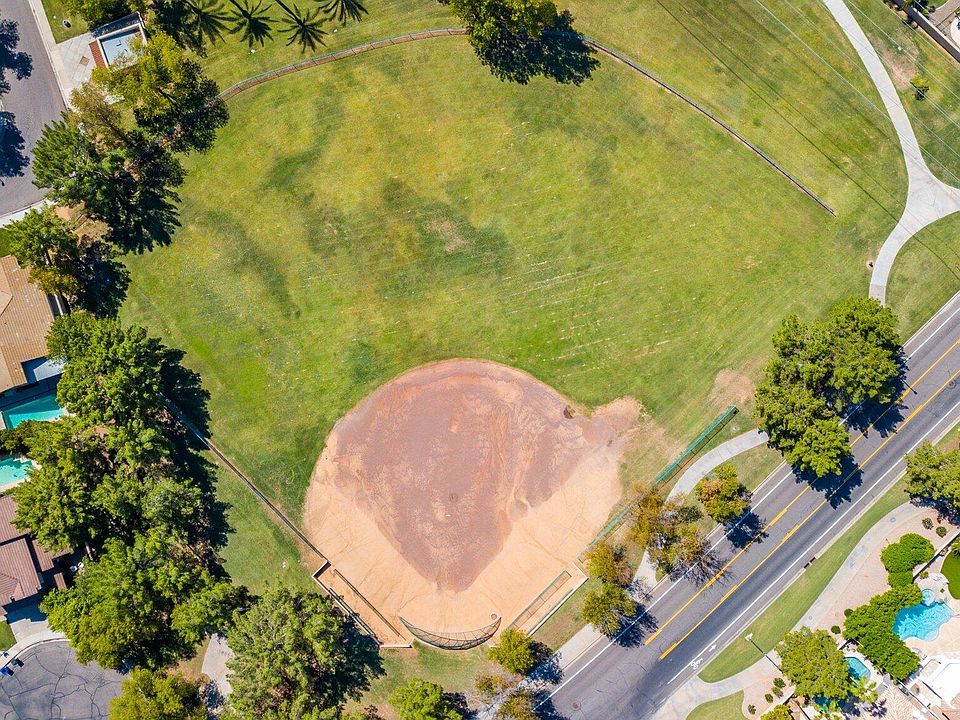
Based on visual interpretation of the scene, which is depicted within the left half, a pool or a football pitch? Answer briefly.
pool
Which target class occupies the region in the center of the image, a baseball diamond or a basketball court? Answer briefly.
baseball diamond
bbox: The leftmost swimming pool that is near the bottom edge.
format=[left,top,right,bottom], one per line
[810,652,873,718]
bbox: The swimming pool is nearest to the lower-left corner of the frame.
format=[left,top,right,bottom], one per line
[0,454,35,488]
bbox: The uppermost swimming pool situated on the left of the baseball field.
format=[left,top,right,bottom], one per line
[0,390,65,430]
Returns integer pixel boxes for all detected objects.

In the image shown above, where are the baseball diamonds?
[121,32,832,650]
